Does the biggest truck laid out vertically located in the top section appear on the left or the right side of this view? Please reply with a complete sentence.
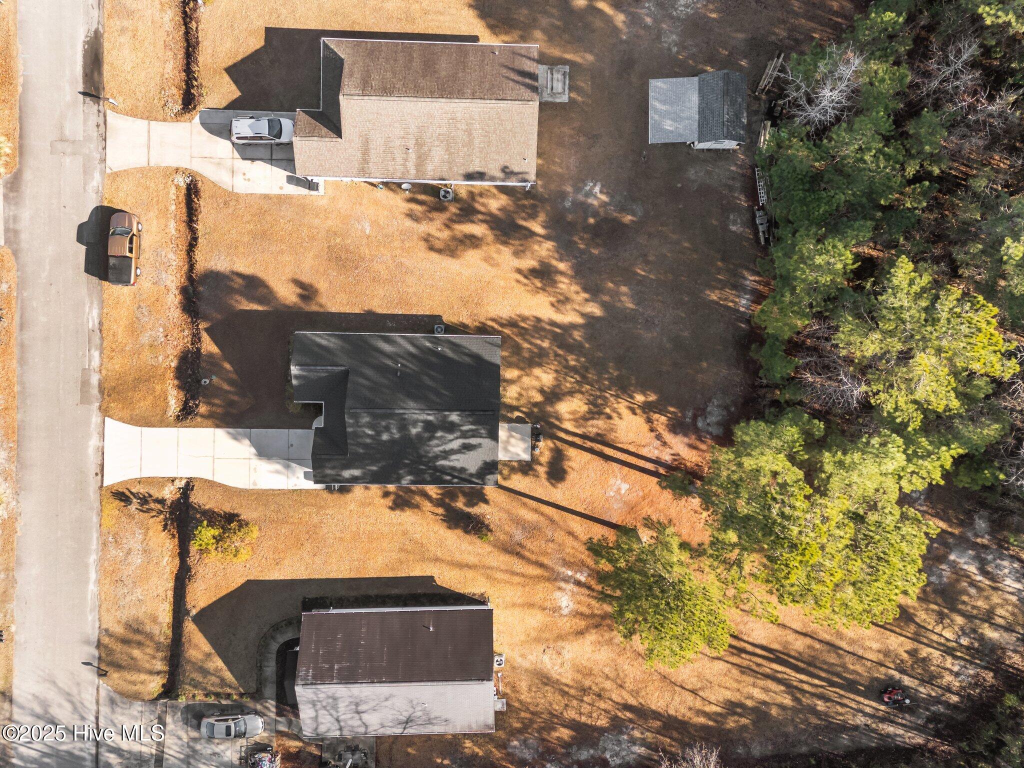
You can find the biggest truck laid out vertically located in the top section on the left side of the picture.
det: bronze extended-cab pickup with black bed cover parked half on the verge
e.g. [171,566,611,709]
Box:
[109,214,145,289]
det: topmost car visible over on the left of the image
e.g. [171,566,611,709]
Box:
[229,115,294,148]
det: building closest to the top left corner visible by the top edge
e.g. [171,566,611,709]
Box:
[291,38,540,192]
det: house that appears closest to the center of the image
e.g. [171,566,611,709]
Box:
[291,331,501,488]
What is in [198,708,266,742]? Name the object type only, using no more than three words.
car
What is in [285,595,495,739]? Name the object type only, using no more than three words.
house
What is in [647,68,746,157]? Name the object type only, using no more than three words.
shed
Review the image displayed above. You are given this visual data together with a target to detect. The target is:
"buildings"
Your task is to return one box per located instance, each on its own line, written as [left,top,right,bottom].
[285,595,495,739]
[647,68,746,157]
[291,38,540,192]
[291,331,501,488]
